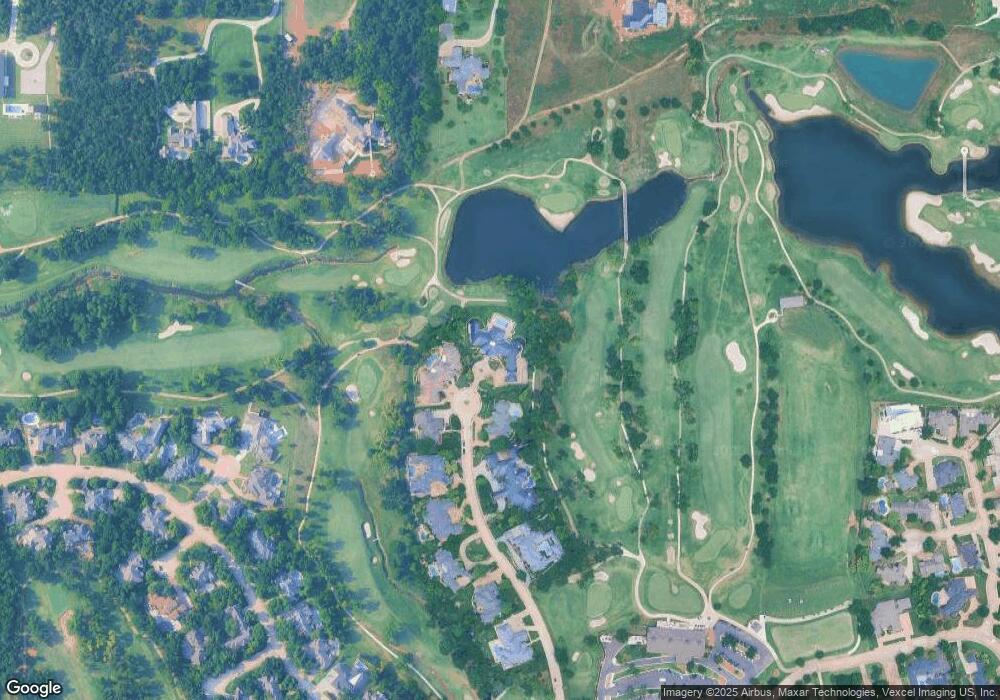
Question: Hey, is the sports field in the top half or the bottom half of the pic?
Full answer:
Seen from above, the sports field lies in the bottom half of the view.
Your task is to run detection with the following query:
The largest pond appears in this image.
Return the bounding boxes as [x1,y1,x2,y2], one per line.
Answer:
[838,49,942,110]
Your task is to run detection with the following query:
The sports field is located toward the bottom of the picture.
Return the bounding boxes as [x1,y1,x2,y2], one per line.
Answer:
[766,606,860,667]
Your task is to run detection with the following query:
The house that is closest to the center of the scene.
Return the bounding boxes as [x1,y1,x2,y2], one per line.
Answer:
[469,318,526,384]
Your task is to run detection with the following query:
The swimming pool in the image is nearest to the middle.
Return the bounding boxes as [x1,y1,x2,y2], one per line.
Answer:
[493,313,512,332]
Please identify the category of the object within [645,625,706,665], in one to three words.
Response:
building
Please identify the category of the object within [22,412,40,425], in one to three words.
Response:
swimming pool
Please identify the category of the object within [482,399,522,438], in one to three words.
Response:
house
